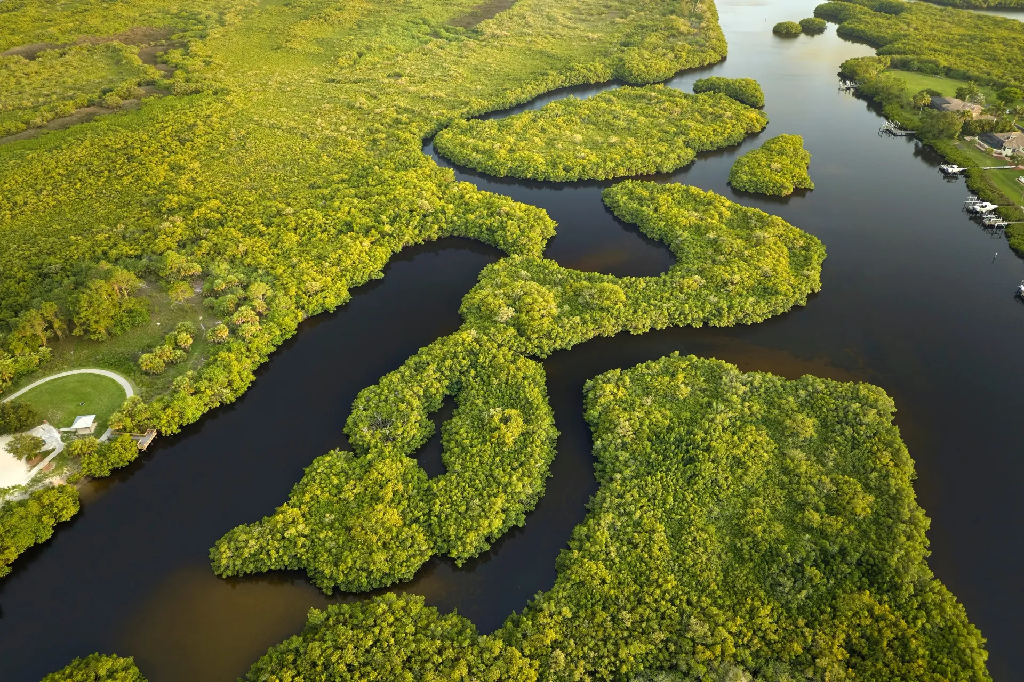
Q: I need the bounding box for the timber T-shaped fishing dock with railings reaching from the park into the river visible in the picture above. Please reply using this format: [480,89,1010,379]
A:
[104,430,158,454]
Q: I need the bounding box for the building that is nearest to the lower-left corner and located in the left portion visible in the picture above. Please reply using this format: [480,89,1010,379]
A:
[70,414,101,436]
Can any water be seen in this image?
Yes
